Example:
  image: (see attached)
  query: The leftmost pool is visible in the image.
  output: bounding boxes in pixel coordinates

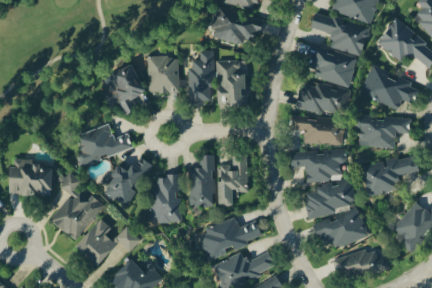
[28,146,58,164]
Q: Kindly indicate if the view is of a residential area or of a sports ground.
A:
residential area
